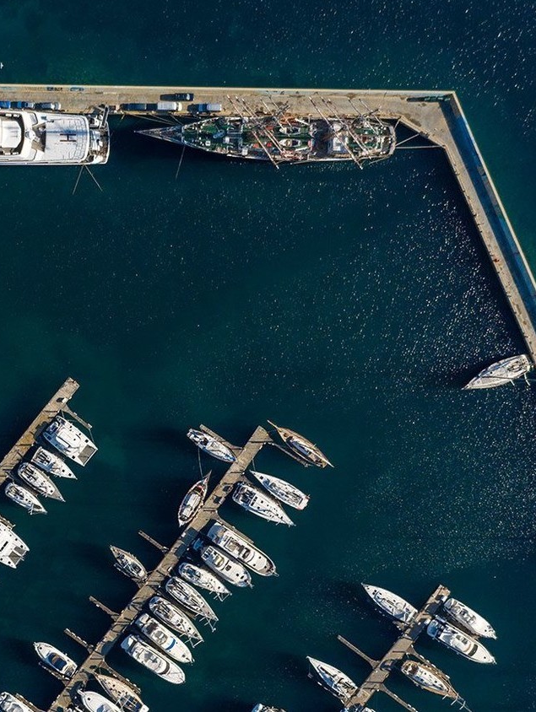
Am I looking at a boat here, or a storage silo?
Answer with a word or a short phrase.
boat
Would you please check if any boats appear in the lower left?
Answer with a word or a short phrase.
Yes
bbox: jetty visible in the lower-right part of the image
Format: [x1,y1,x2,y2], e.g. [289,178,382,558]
[315,584,480,712]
